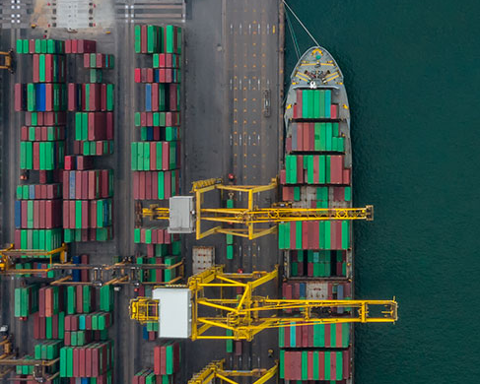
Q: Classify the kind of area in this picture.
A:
port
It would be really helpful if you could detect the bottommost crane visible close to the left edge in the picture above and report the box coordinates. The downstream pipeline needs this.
[0,347,60,383]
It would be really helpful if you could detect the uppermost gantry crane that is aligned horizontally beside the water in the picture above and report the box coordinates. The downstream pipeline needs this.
[142,176,376,241]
